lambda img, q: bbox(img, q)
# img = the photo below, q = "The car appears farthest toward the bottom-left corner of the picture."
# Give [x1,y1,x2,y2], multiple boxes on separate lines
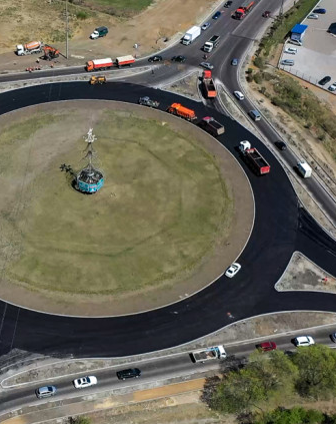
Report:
[35,383,58,397]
